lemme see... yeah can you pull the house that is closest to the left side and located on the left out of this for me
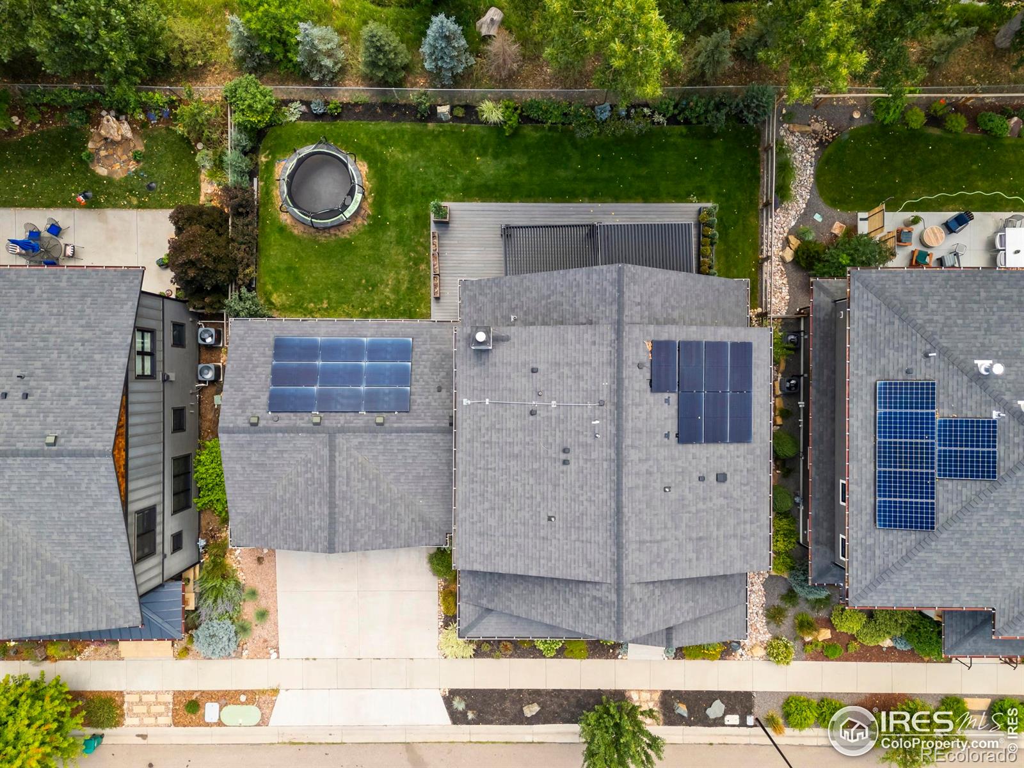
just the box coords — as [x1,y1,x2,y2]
[0,264,204,642]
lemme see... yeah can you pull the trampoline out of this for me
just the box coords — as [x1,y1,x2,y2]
[278,136,365,233]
